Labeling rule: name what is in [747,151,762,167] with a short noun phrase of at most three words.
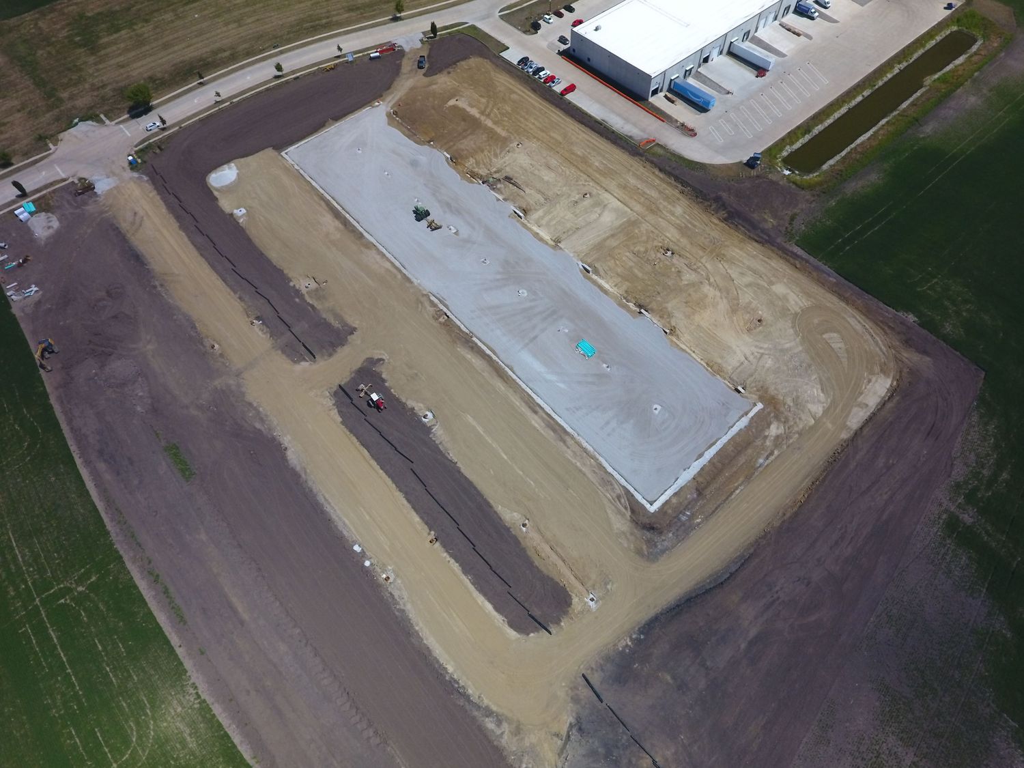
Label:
vehicle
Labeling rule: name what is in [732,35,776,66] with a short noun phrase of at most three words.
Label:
trailer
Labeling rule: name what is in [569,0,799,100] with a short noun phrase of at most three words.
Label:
building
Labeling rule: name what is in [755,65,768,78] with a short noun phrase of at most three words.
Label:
vehicle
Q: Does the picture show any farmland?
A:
Yes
